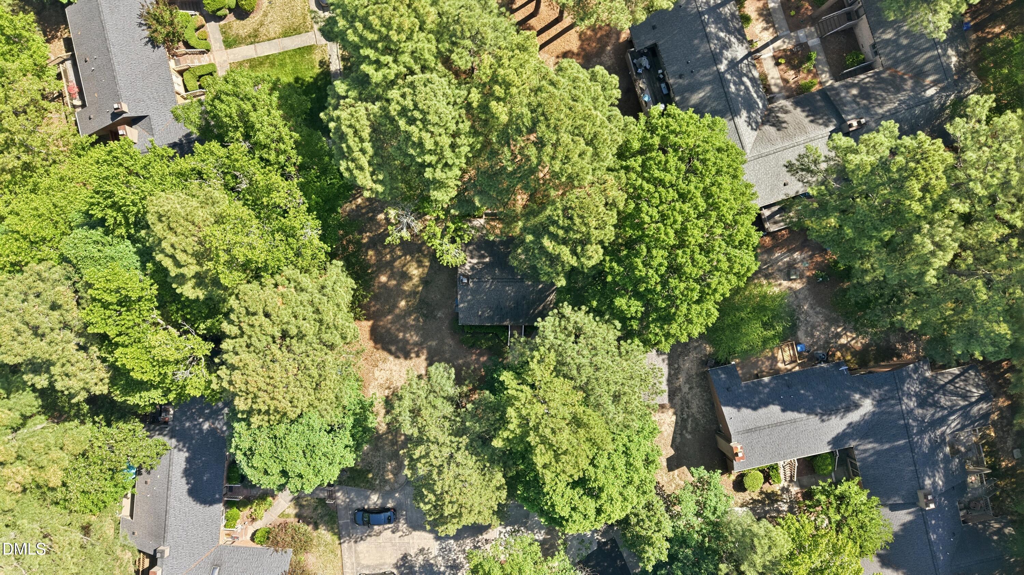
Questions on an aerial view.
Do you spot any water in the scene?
No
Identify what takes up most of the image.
trees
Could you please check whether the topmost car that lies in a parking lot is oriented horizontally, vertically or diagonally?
horizontally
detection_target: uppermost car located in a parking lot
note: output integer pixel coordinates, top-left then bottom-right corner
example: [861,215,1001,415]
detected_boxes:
[355,505,397,528]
